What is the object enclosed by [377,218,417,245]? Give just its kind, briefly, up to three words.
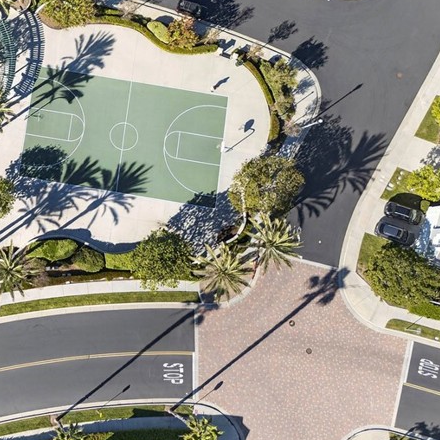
car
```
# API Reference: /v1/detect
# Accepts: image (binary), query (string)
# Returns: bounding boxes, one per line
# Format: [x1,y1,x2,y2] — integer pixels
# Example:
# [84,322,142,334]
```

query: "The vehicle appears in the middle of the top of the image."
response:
[177,0,210,14]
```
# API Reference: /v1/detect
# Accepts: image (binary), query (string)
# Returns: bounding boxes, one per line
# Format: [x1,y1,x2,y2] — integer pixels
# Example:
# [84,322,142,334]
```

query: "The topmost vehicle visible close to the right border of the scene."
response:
[385,198,426,226]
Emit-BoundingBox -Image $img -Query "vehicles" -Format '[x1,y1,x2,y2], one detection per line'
[177,0,210,14]
[377,218,417,245]
[385,198,426,226]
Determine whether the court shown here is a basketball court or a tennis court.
basketball court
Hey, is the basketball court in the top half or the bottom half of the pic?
top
